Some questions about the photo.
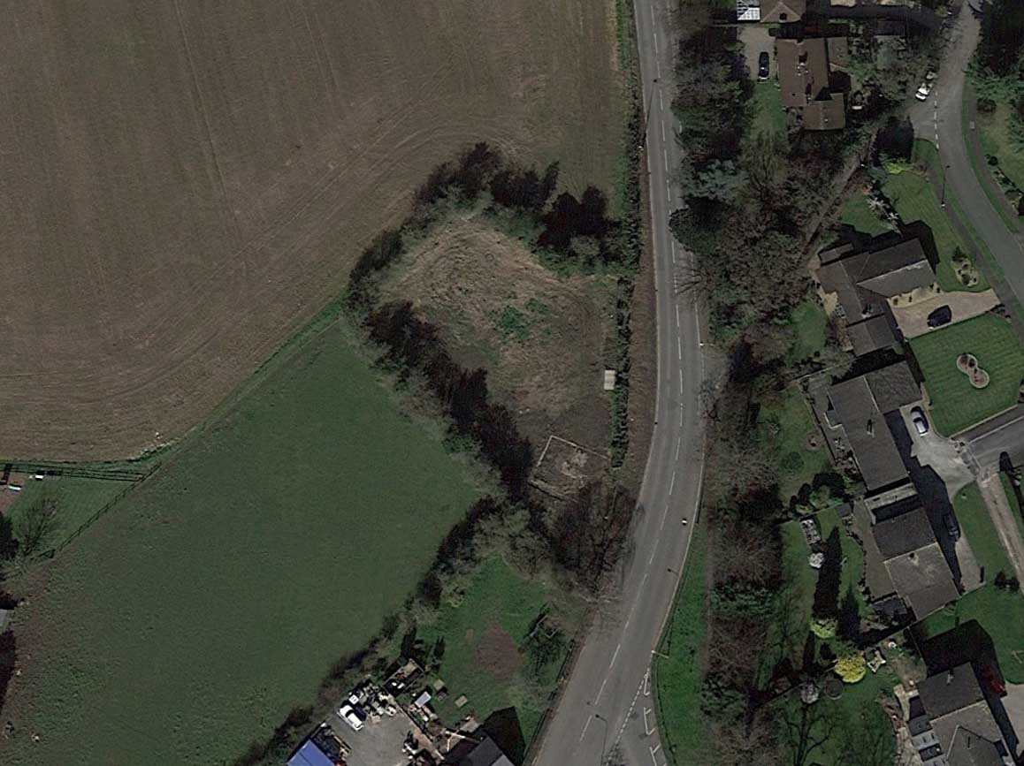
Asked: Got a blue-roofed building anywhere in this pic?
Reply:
Yes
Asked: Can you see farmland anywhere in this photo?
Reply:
Yes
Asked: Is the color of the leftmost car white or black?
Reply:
white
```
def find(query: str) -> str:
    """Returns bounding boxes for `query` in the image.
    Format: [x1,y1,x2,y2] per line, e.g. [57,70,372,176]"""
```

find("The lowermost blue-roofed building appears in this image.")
[282,735,338,766]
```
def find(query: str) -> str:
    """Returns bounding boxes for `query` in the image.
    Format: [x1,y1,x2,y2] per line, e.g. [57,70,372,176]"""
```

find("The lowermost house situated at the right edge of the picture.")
[910,665,1018,766]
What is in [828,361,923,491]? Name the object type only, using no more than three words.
house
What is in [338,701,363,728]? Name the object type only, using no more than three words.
car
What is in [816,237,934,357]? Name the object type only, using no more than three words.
house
